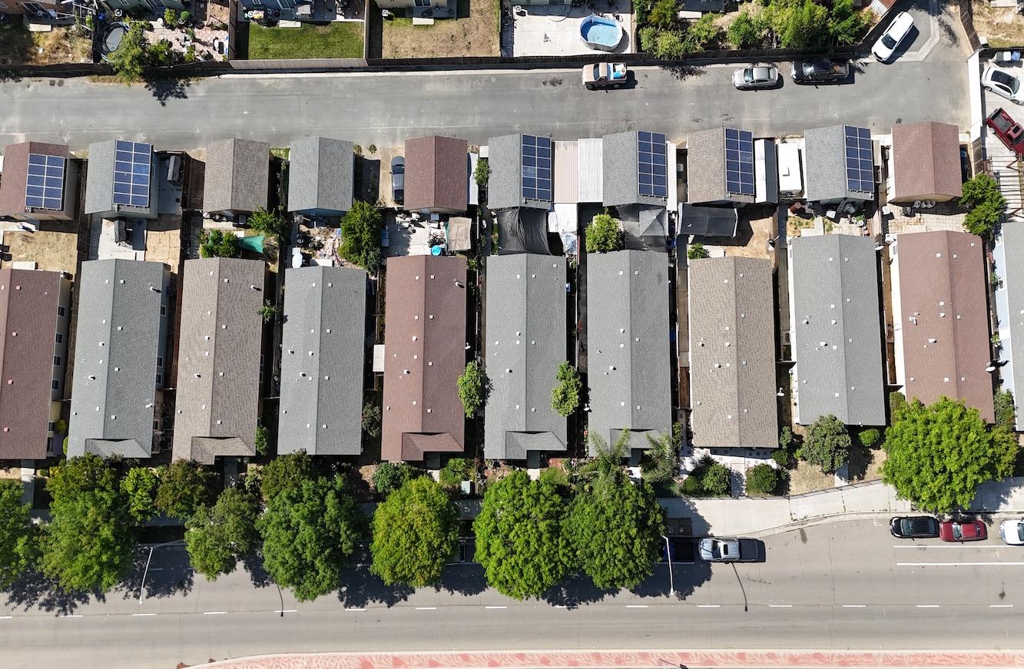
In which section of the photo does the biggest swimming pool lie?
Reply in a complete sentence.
The biggest swimming pool is located in the top region of the scene.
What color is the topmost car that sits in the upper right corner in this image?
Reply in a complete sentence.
The color of the topmost car that sits in the upper right corner is white.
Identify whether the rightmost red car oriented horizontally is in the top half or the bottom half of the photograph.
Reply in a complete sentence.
The rightmost red car oriented horizontally sits in the bottom half of the picture.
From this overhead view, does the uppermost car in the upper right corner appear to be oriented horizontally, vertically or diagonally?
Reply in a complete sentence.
The uppermost car in the upper right corner has been laid out diagonally relative to the frame.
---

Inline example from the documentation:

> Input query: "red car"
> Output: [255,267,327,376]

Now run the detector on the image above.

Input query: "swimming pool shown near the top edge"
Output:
[582,18,621,53]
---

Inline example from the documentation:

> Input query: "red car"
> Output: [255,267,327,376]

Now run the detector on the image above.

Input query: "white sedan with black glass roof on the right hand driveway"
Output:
[981,70,1024,105]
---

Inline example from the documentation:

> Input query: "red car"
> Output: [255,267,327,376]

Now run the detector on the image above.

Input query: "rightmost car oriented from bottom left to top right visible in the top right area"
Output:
[871,10,914,64]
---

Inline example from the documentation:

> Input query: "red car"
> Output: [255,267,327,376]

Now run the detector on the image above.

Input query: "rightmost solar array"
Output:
[845,126,874,193]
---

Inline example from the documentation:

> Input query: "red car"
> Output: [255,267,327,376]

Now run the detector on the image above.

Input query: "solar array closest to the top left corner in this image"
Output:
[25,154,64,211]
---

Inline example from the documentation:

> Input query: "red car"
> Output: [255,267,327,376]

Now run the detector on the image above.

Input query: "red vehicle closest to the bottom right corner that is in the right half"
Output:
[937,520,988,543]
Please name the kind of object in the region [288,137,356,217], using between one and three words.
building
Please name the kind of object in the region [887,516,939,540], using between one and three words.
car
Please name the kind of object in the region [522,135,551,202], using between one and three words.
solar array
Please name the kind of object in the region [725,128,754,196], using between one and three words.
solar array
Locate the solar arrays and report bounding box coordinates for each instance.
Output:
[113,141,151,208]
[725,128,754,196]
[638,131,667,198]
[25,154,64,211]
[845,126,874,193]
[522,135,551,202]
